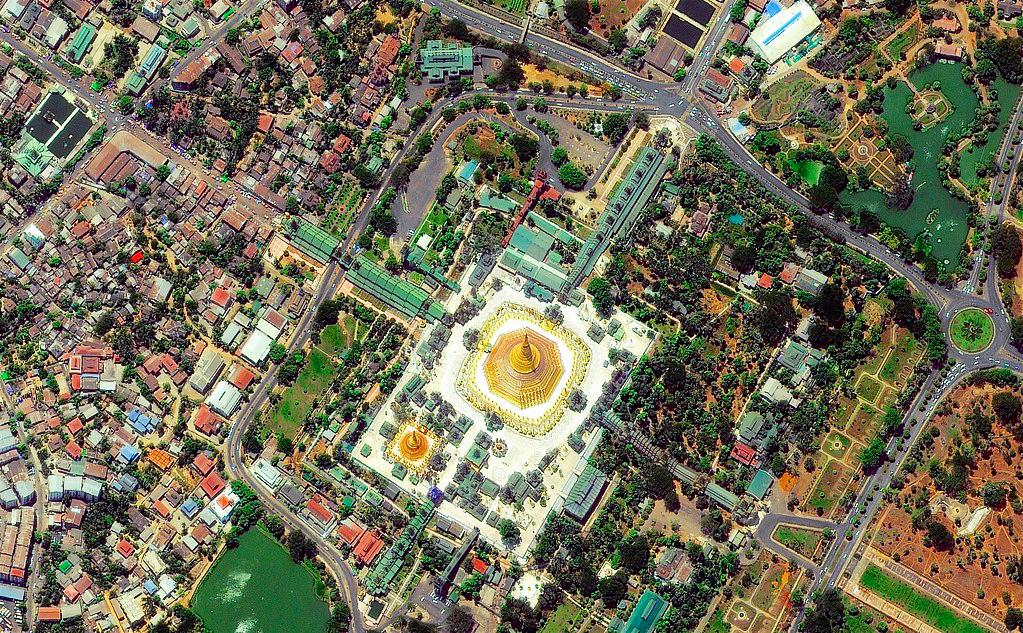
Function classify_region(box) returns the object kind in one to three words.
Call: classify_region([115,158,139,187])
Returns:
shed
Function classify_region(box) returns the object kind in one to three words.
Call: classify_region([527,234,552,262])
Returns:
building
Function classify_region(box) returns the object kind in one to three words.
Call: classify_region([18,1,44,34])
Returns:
house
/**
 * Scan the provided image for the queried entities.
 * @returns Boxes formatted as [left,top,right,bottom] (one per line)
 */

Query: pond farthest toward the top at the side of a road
[660,0,718,52]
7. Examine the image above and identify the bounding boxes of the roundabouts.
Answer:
[949,308,995,354]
